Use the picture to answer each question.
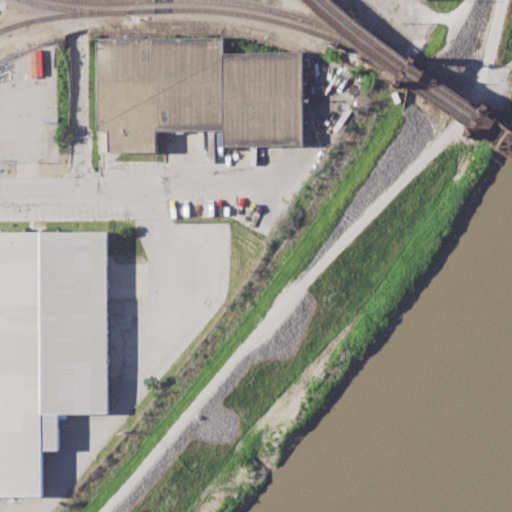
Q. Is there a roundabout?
No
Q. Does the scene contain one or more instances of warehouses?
Yes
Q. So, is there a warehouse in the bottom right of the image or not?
No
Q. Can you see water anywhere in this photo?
Yes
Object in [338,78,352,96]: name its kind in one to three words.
vehicle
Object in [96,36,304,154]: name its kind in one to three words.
warehouse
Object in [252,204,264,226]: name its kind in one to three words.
vehicle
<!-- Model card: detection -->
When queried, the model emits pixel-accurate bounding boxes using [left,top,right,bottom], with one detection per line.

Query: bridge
[300,0,512,162]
